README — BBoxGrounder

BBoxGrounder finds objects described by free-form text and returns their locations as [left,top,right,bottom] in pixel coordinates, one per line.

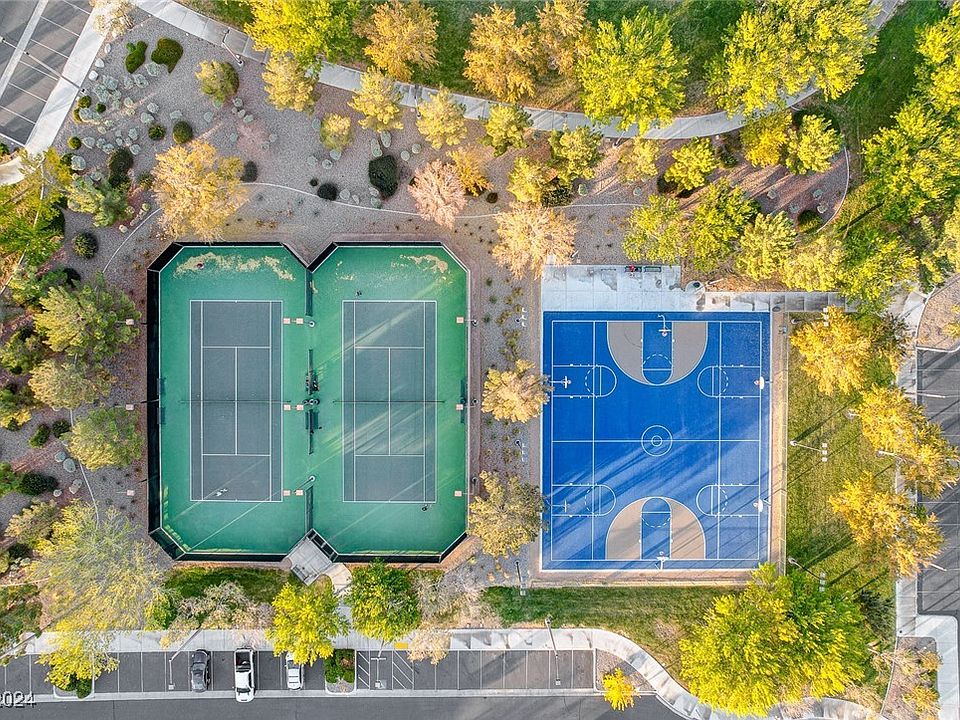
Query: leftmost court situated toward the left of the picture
[161,247,308,553]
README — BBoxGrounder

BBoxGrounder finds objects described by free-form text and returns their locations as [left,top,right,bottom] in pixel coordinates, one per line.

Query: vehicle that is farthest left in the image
[190,650,211,691]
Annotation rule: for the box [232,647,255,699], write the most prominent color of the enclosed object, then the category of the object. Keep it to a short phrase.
white truck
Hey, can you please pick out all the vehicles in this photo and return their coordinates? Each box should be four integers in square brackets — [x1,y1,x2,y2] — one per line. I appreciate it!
[232,647,255,699]
[190,650,211,691]
[285,646,303,687]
